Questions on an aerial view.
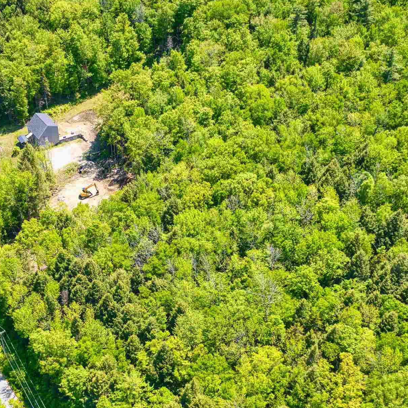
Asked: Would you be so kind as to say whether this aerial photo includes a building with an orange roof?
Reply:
No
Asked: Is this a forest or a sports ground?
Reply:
forest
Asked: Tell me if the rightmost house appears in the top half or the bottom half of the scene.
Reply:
top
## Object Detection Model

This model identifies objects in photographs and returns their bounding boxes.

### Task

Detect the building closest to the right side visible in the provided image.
[25,112,60,150]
